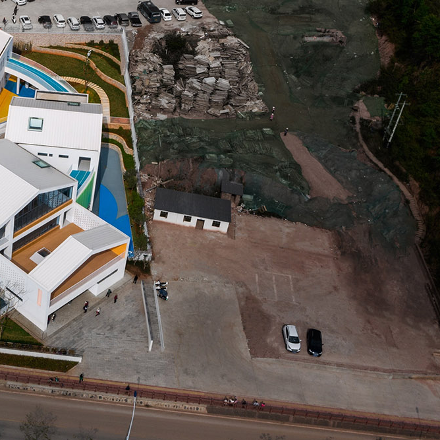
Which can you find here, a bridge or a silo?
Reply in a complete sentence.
Looking from above, you can make out a bridge.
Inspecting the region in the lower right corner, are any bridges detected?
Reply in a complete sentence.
No, there is no bridge in the lower right corner.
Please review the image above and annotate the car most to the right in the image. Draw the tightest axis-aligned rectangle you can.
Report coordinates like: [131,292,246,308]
[306,328,323,355]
